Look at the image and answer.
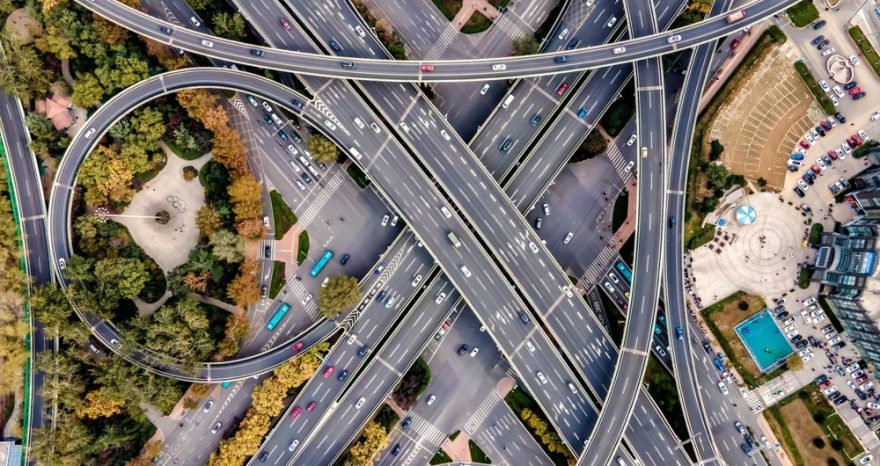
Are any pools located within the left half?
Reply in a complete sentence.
No, I can find no pool within the left half.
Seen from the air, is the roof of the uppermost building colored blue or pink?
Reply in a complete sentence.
From above, the roof of the uppermost building appears pink.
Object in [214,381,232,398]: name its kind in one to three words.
vehicle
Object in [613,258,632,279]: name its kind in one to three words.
vehicle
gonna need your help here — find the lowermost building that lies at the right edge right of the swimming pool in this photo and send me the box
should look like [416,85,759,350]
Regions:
[832,288,880,391]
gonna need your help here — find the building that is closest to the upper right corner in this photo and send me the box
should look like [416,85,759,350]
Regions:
[838,161,880,214]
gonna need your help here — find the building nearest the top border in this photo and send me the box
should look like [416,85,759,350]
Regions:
[39,91,81,132]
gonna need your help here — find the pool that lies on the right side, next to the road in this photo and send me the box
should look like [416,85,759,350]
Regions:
[735,310,797,374]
